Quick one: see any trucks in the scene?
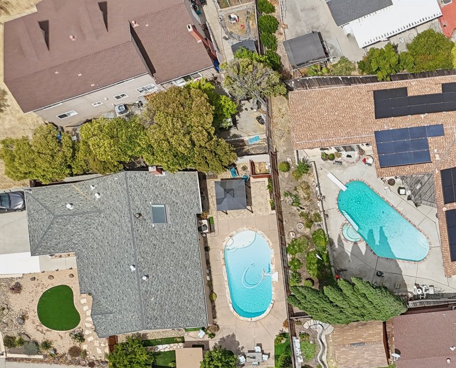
No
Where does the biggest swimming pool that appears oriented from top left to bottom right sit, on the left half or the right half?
right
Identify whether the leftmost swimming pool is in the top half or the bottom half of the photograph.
bottom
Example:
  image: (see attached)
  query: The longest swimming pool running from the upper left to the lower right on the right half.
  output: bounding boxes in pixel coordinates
[335,178,432,264]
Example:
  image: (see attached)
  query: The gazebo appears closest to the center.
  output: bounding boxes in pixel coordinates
[214,180,255,216]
